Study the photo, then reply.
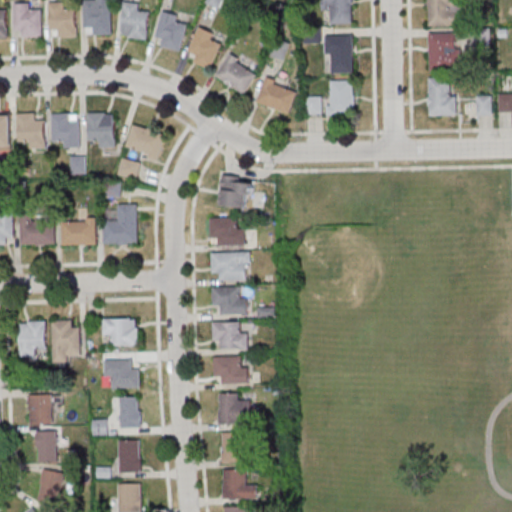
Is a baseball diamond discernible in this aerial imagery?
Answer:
Yes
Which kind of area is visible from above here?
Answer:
residential area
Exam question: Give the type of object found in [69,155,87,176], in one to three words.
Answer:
building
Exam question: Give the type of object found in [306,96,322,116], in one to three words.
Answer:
building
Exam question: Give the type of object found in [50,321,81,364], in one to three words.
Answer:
house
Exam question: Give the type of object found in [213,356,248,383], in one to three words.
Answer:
house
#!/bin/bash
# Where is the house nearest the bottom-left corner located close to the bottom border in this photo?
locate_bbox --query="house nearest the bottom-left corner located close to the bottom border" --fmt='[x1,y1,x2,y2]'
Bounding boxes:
[38,468,64,504]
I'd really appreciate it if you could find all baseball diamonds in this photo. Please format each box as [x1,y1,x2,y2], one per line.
[298,221,392,313]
